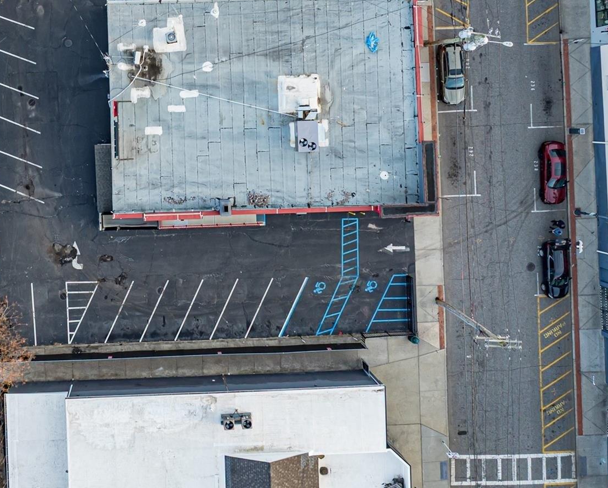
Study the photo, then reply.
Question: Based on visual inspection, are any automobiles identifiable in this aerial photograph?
Yes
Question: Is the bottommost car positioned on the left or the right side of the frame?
right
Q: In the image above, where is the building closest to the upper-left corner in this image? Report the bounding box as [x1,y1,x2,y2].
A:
[94,0,438,230]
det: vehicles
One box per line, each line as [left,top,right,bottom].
[535,141,570,204]
[436,43,468,105]
[537,241,573,305]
